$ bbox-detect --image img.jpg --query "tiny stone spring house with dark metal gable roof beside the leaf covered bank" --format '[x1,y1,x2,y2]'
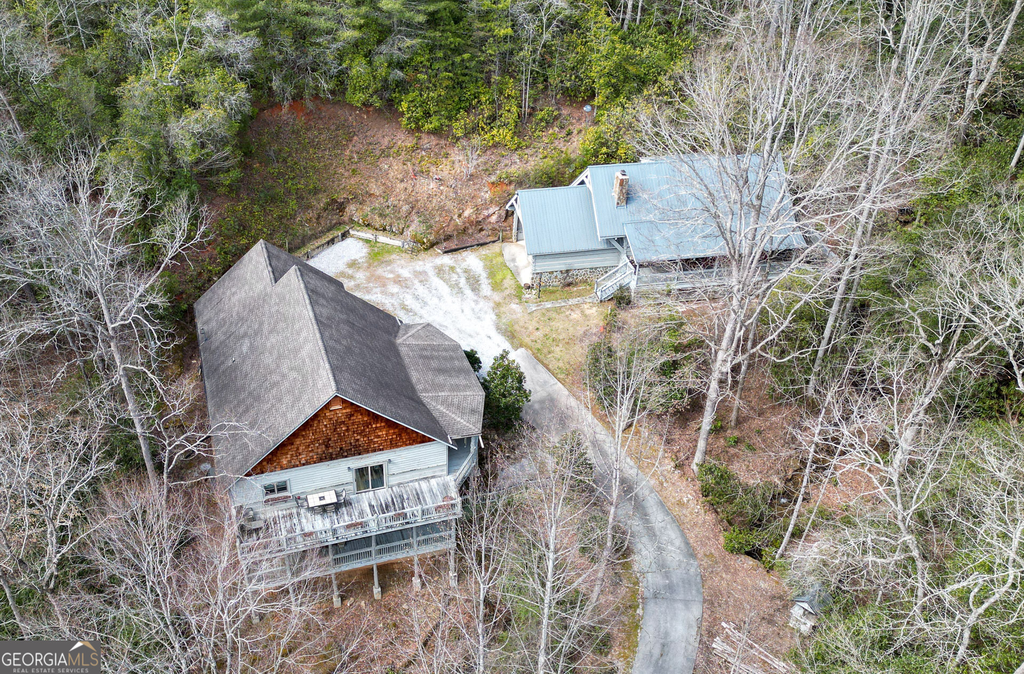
[789,588,830,635]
